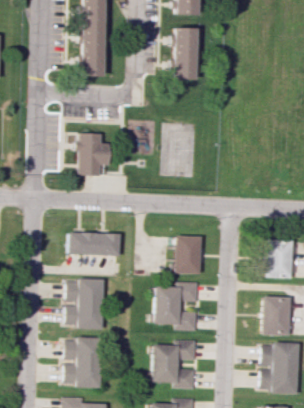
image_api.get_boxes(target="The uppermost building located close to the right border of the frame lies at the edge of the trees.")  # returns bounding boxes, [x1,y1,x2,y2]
[264,241,293,279]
